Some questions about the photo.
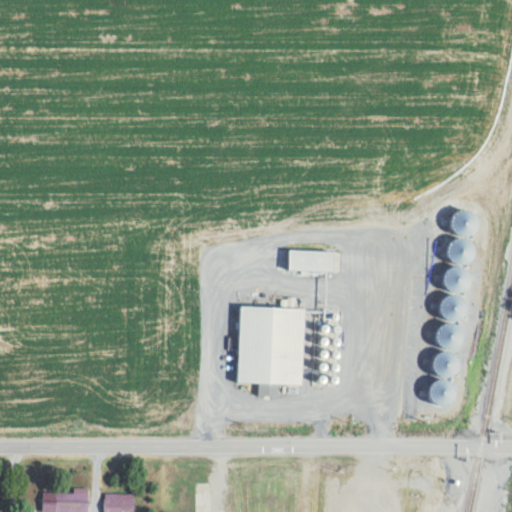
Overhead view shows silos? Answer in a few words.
Yes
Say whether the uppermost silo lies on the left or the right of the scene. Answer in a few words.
right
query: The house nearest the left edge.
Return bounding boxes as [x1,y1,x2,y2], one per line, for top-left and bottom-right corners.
[42,488,88,512]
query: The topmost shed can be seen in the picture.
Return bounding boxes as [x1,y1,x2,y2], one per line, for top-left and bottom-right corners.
[288,250,340,272]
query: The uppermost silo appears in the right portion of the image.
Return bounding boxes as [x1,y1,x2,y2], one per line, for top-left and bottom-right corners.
[452,208,480,238]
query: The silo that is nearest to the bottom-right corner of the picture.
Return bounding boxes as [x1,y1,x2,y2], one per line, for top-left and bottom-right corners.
[430,378,458,407]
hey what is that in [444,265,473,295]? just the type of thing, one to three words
silo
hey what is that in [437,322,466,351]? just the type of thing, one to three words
silo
